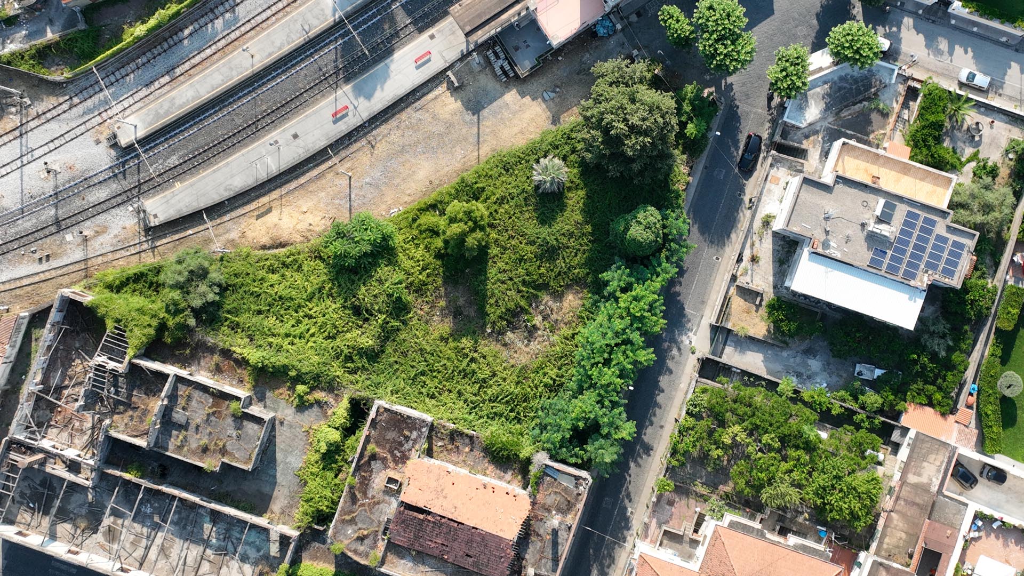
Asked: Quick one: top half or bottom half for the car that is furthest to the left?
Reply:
top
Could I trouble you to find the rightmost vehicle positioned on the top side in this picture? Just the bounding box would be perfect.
[958,67,994,89]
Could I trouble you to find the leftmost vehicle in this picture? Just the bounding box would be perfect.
[741,133,764,172]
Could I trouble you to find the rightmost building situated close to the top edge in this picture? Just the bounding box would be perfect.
[526,0,612,56]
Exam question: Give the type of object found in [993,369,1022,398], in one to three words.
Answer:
umbrella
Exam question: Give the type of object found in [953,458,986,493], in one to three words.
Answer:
car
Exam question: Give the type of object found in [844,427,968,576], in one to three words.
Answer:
building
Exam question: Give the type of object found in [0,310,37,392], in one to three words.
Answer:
shed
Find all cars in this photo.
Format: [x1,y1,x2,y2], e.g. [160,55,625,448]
[958,67,994,89]
[953,458,986,493]
[981,465,1012,486]
[880,36,894,54]
[741,133,764,172]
